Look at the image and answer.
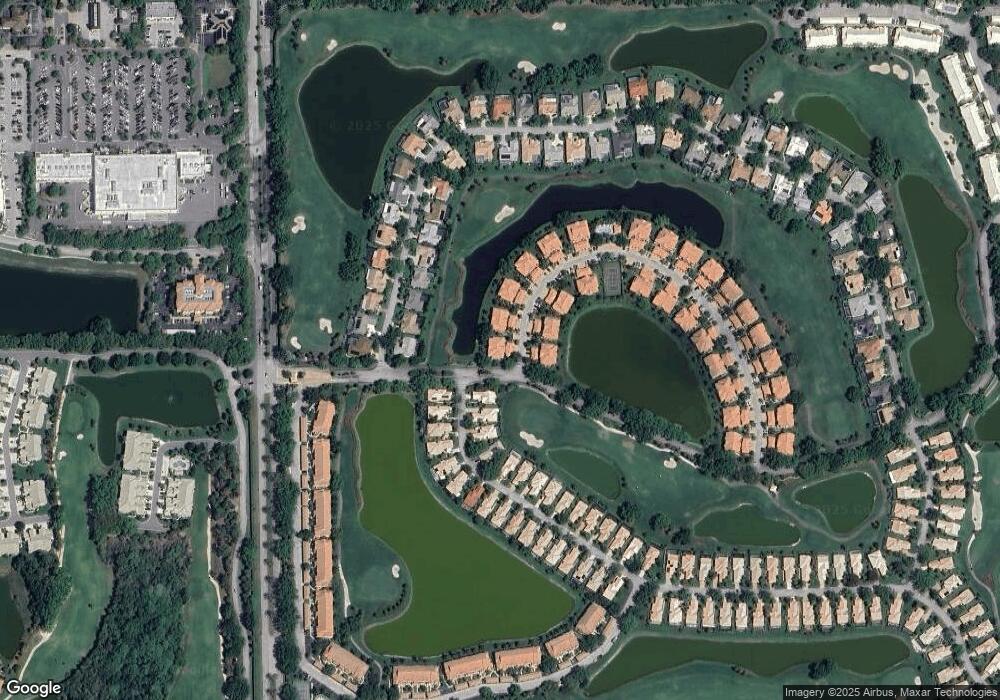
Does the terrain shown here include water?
Yes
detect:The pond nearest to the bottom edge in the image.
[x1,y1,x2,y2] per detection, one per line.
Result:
[590,635,909,695]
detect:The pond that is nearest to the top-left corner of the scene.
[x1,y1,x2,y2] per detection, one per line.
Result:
[0,266,139,336]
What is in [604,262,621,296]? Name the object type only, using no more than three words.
tennis court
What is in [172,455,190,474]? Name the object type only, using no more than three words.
swimming pool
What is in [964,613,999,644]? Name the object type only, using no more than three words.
house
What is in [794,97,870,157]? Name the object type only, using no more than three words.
pond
